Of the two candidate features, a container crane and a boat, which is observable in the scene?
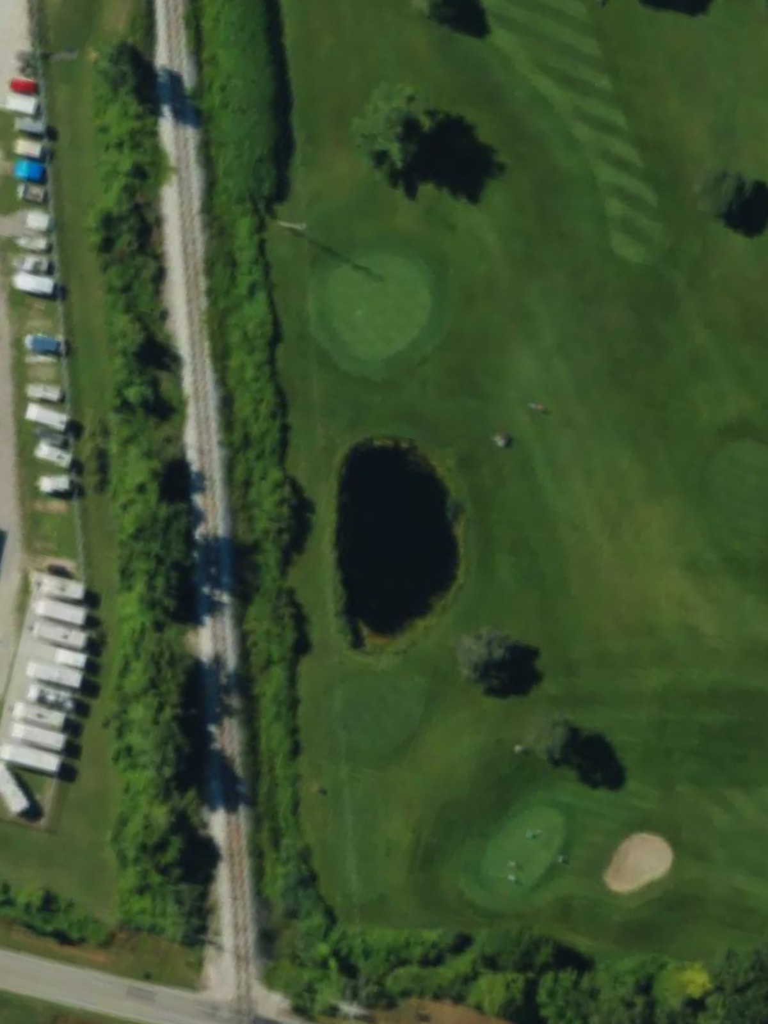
boat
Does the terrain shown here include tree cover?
Yes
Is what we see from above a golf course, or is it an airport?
golf course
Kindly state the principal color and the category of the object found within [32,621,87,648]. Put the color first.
white trailer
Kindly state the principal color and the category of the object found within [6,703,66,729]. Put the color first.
white trailer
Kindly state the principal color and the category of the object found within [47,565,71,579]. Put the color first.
black car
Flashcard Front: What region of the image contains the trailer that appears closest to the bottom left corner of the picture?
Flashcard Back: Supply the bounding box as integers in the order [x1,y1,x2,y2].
[0,763,33,817]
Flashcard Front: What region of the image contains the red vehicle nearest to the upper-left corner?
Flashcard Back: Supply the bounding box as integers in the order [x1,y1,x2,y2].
[10,79,37,93]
